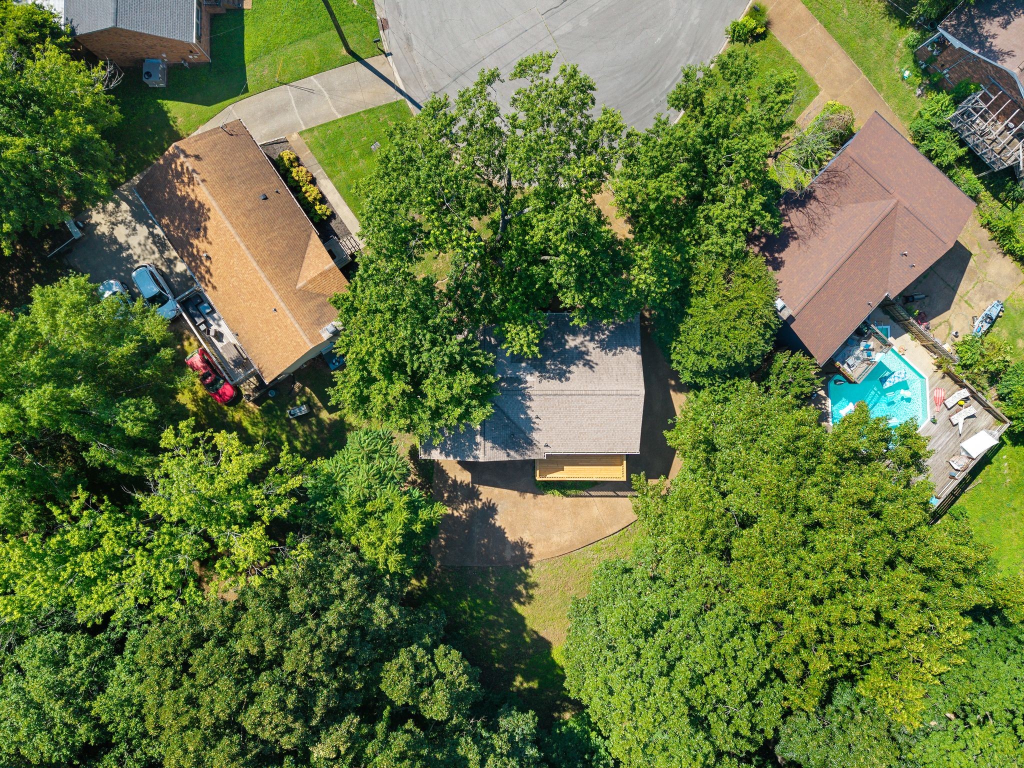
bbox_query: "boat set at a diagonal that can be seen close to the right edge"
[976,299,1008,337]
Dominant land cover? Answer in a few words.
trees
